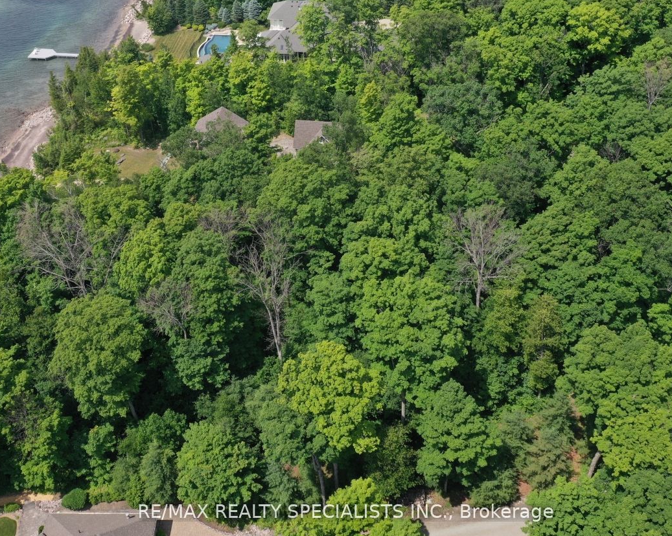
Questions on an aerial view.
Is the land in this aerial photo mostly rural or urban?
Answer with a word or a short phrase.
rural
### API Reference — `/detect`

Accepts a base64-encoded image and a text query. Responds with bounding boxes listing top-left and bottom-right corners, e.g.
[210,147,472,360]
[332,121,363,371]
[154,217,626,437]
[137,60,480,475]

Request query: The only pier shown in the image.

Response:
[27,49,81,62]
